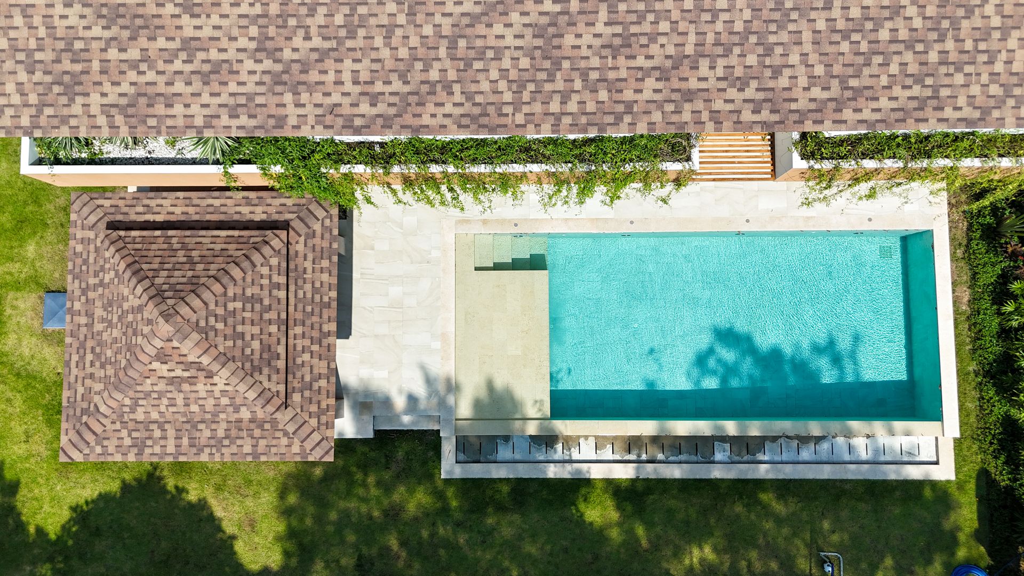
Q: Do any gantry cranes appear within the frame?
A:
No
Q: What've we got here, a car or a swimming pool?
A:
swimming pool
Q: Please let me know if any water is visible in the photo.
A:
Yes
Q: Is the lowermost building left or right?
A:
left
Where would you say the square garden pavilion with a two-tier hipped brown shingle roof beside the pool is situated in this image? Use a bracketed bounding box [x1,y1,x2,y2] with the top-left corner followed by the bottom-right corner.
[58,189,346,462]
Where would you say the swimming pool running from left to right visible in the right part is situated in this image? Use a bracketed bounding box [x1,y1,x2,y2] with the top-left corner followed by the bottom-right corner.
[440,217,960,437]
